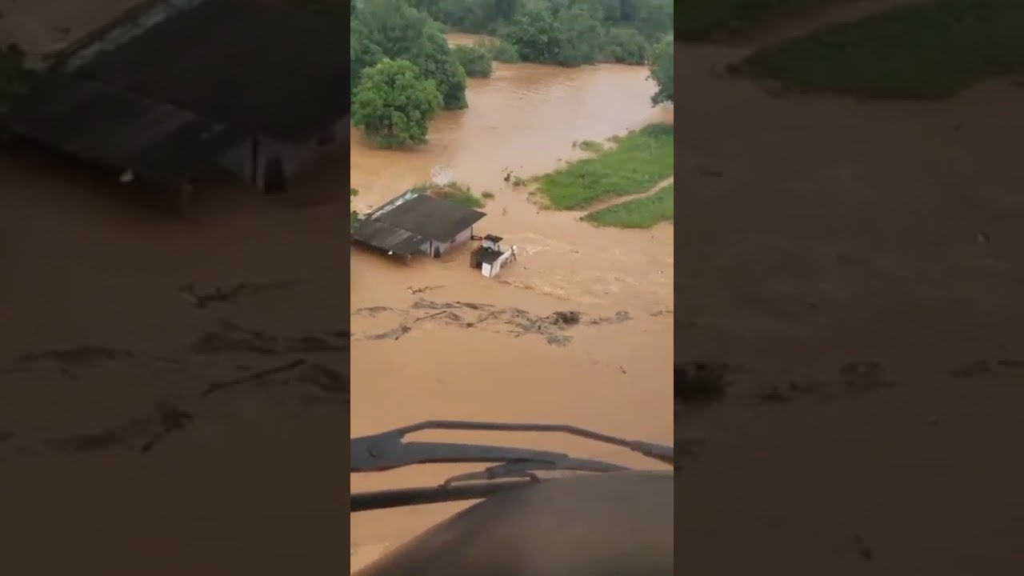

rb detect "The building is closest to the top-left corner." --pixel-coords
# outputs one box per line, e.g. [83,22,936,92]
[350,194,486,261]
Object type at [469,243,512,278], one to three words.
shed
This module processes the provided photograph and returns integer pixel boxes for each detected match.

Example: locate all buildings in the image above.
[350,194,486,261]
[469,243,512,278]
